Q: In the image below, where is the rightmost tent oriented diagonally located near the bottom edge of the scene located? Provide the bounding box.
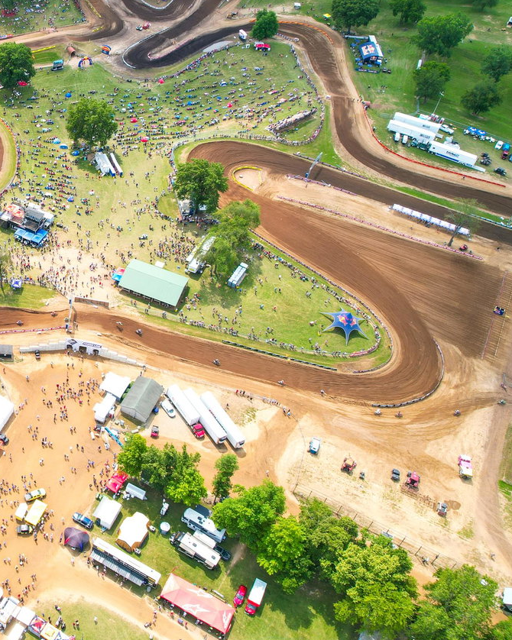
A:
[156,574,235,639]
